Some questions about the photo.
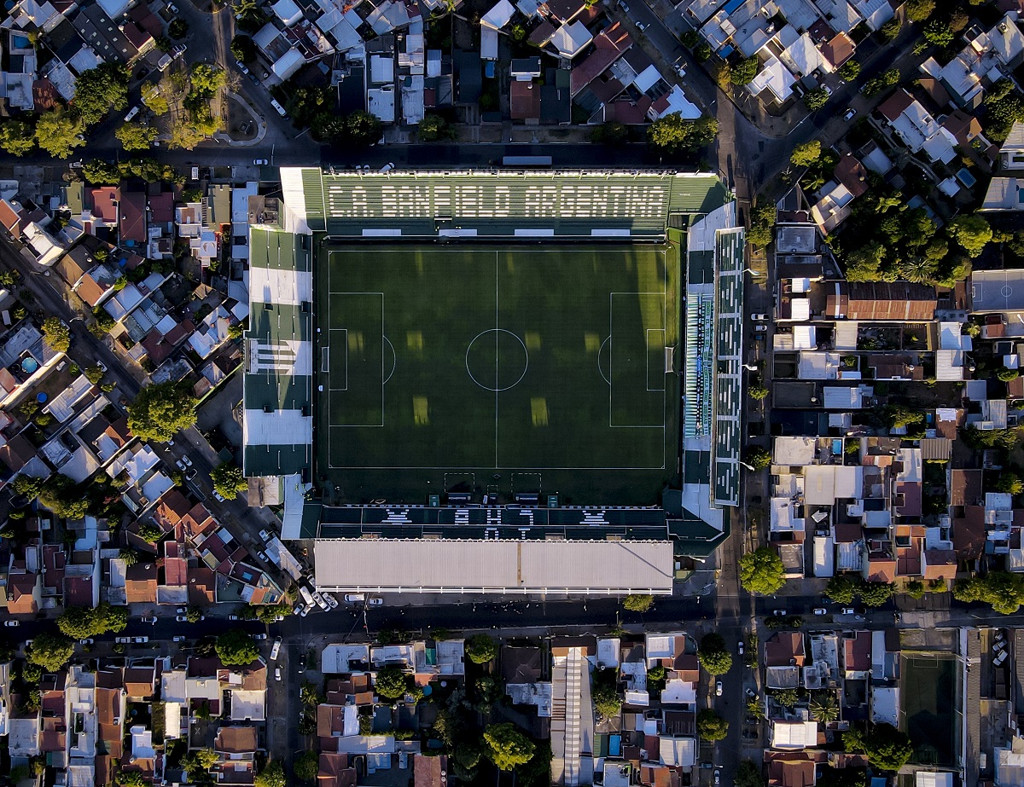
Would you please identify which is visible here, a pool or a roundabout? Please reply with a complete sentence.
Of the two, only a pool appears.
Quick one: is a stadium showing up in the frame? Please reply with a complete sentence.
Yes, the image includes a stadium.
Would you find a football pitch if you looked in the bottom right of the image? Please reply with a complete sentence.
Yes, a football pitch is visible in the bottom right of the image.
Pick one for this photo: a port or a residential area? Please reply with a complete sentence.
This image shows a residential area.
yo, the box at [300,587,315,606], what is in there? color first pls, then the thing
white vehicle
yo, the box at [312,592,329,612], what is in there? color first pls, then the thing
white vehicle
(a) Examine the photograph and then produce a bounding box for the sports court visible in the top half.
[969,269,1024,312]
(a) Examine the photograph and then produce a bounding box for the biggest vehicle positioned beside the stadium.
[502,156,552,168]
